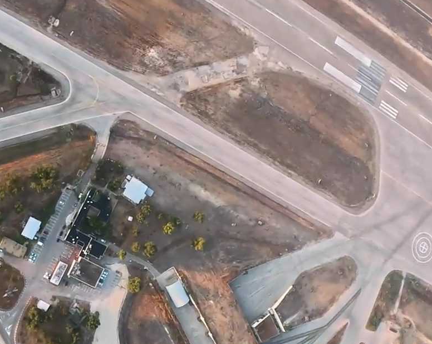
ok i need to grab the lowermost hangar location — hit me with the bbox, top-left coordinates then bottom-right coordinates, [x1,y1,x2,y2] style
[255,317,280,340]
